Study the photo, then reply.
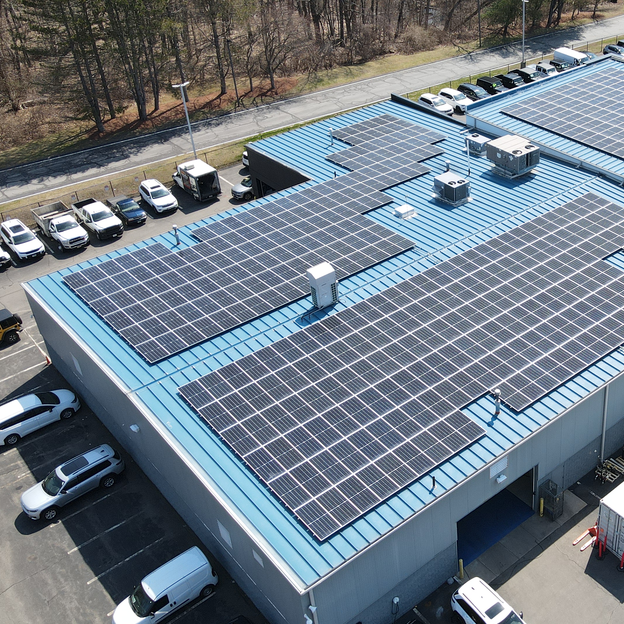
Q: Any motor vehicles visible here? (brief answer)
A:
Yes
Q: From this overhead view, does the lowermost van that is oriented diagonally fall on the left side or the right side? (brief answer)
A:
left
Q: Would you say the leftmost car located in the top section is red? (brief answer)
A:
No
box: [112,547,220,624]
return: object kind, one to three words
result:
van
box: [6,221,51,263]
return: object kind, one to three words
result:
car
